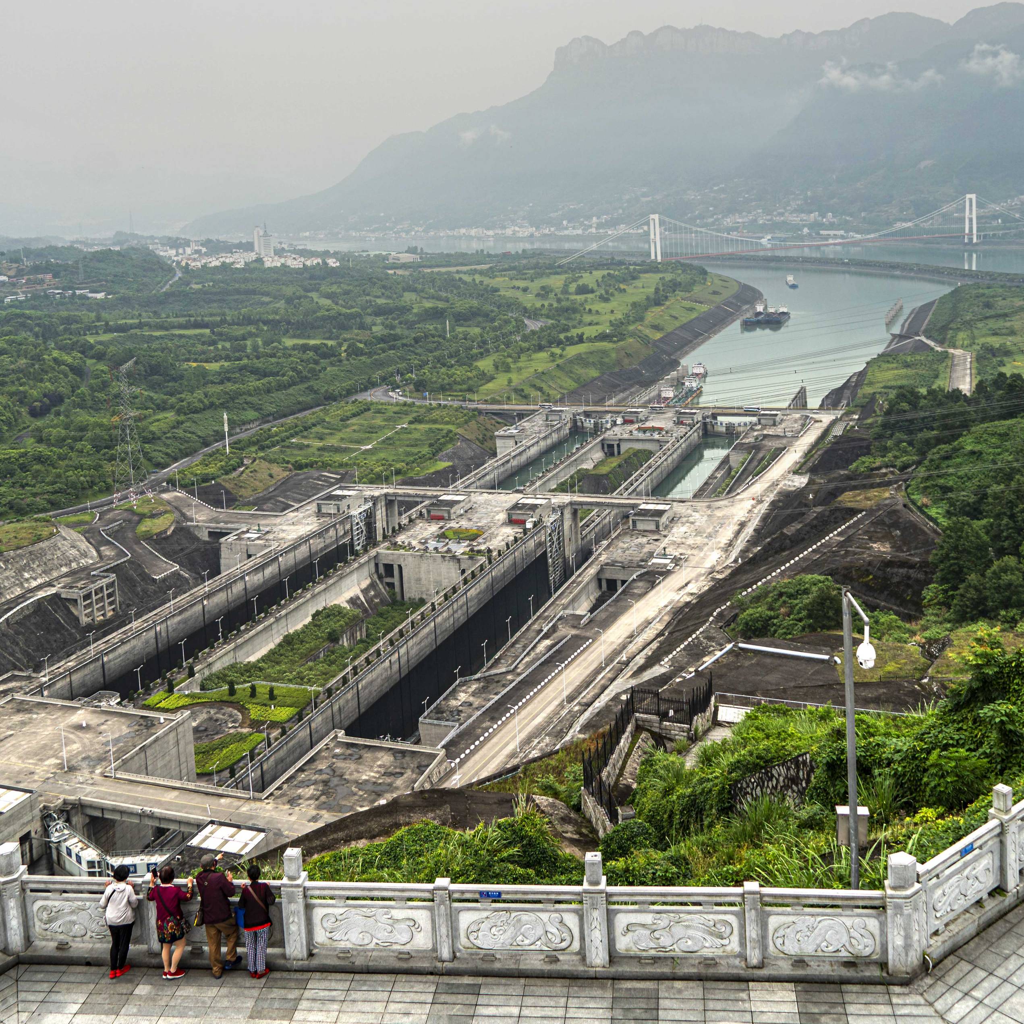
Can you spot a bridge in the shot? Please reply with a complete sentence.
Yes, there is a bridge in the image.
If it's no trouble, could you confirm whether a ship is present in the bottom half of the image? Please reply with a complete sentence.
No, I can find no ship in the bottom half of the image.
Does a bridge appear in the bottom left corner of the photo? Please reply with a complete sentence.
Yes, the scene does show a bridge in the bottom left corner of the photo.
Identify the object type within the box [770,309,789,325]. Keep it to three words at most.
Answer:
ship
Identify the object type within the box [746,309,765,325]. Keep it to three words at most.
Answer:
ship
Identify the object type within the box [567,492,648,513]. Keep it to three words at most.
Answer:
bridge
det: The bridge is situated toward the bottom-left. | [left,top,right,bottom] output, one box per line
[71,769,259,832]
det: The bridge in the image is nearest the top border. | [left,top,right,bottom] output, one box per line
[524,195,1024,268]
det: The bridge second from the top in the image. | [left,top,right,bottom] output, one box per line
[493,402,845,424]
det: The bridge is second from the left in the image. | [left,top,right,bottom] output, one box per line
[388,484,463,502]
